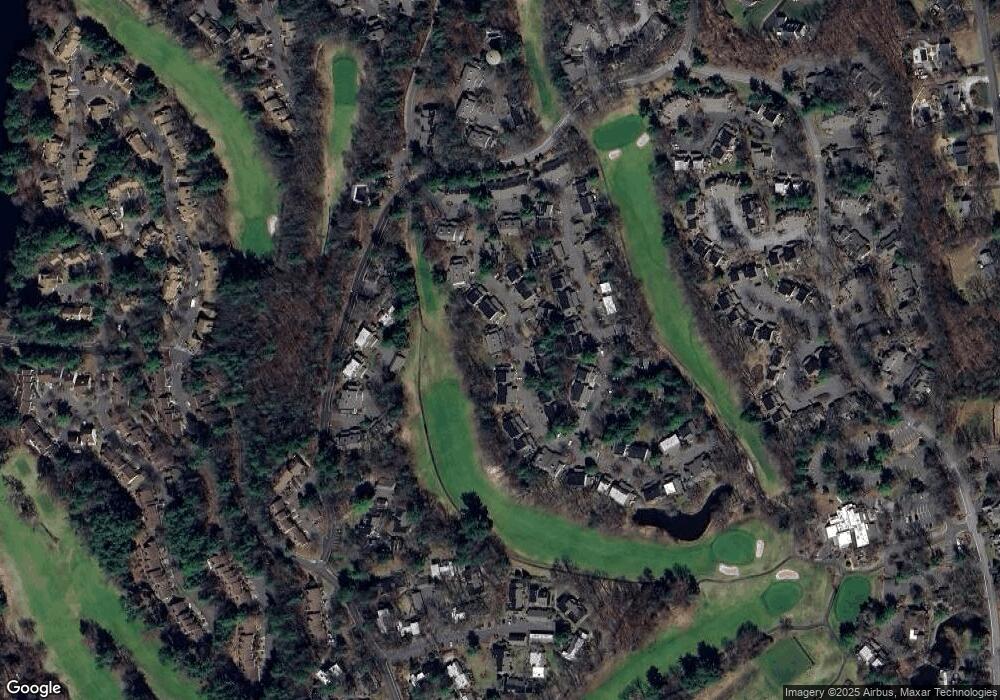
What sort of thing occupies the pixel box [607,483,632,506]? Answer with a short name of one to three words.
house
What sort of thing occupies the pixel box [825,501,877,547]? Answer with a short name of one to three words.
building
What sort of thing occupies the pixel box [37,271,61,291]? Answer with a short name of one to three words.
house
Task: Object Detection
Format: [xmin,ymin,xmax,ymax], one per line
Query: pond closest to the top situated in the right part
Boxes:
[633,484,733,540]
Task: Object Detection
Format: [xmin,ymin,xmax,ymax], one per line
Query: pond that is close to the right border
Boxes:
[911,612,984,691]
